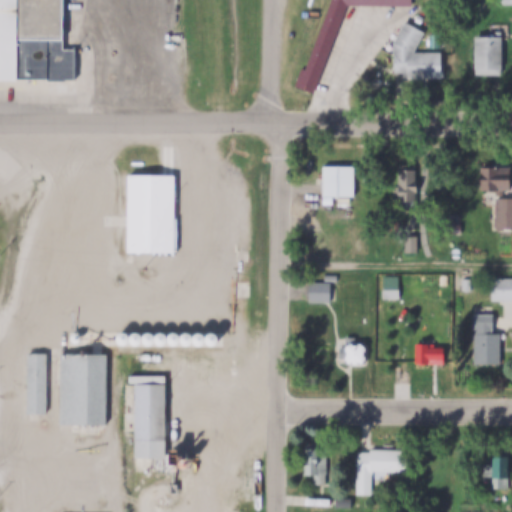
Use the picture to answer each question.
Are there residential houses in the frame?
Yes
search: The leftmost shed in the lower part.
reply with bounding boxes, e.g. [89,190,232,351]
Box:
[27,353,47,415]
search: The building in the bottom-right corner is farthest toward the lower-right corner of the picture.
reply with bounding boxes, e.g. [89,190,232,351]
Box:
[483,457,508,490]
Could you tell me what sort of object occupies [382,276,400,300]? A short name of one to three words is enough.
shed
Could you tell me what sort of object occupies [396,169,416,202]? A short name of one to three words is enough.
house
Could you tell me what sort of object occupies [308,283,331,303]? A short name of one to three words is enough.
building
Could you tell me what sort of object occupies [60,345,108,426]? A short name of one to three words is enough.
shed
